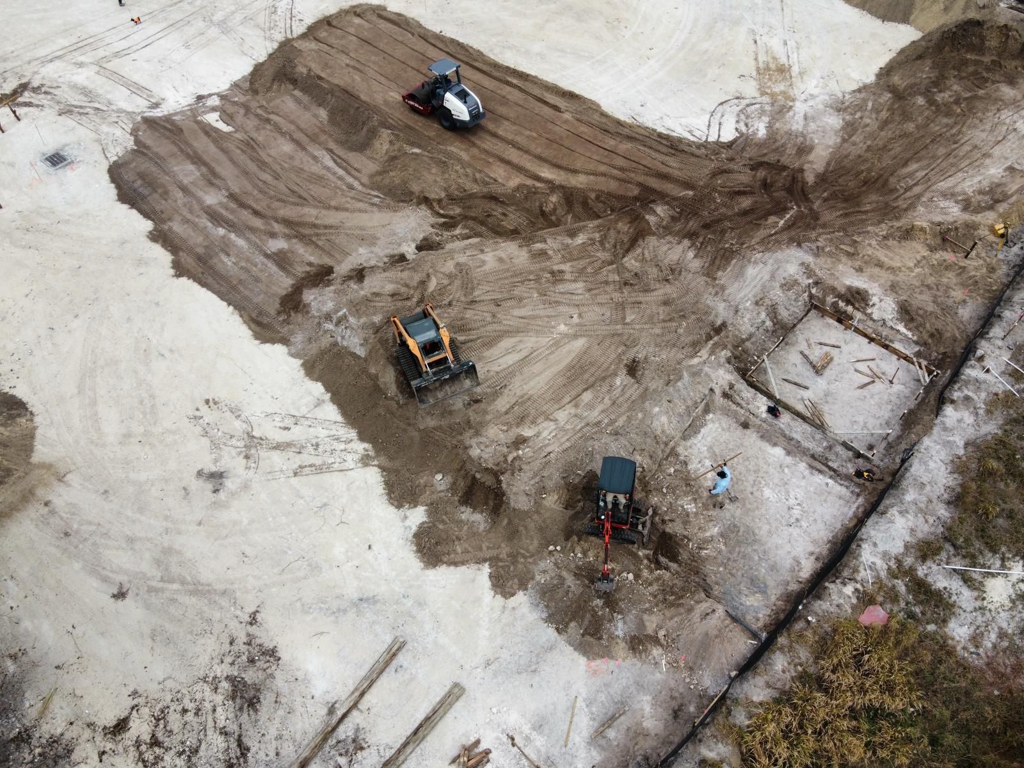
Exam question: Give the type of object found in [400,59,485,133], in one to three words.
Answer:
work vehicle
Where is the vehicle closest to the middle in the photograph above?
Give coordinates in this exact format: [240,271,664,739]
[388,305,480,412]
